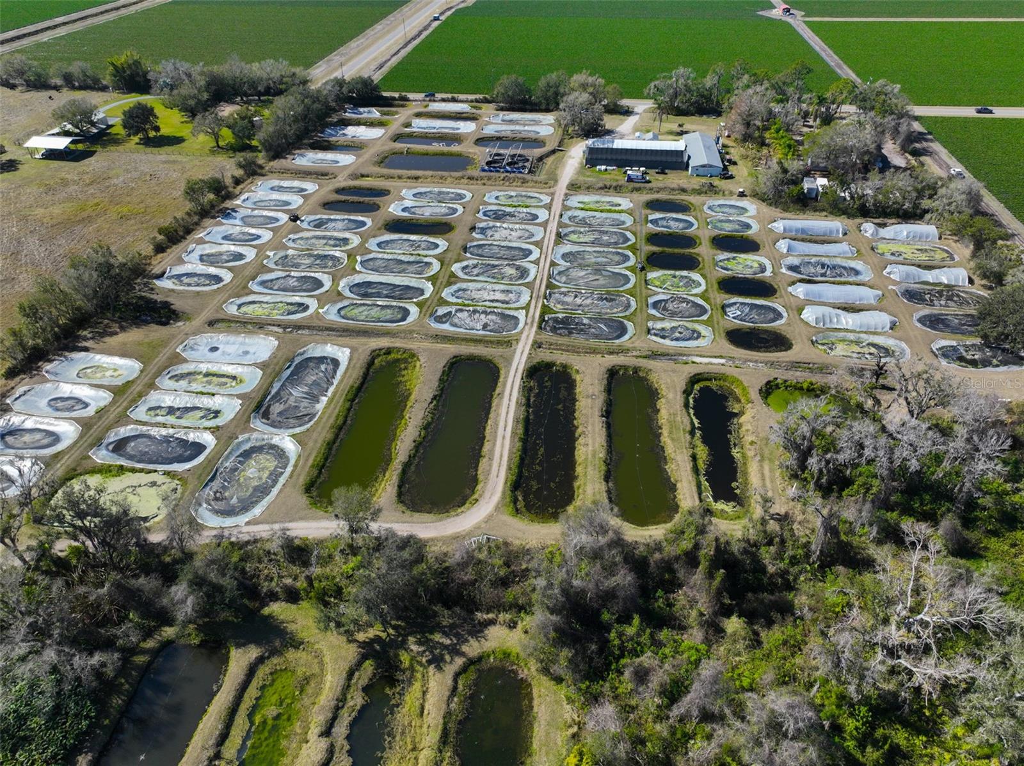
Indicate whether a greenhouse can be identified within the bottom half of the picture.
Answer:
No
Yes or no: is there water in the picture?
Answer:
Yes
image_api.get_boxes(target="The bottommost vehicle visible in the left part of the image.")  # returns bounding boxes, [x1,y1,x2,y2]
[286,210,301,222]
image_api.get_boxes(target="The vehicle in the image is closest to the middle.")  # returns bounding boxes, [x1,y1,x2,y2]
[635,257,647,270]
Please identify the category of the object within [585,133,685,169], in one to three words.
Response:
greenhouse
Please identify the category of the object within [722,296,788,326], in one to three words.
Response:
pond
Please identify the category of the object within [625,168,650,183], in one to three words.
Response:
vehicle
